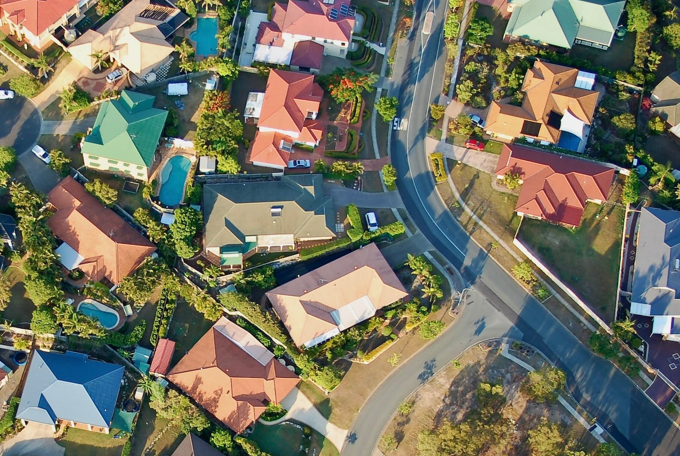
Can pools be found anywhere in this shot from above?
Yes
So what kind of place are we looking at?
residential area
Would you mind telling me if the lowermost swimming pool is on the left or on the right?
left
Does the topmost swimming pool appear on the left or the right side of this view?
left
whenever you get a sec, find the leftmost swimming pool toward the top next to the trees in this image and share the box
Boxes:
[156,153,194,208]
